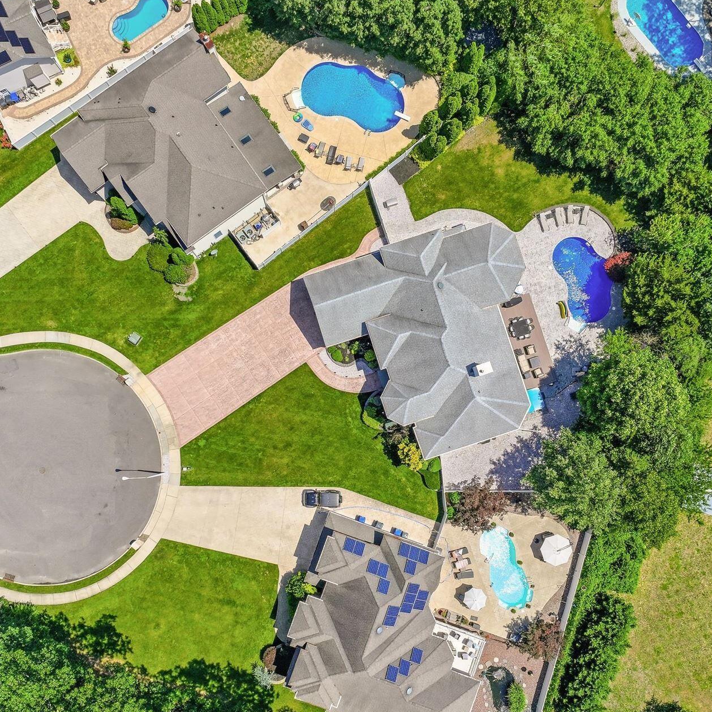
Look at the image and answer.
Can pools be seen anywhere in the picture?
Yes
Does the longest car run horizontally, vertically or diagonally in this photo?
horizontally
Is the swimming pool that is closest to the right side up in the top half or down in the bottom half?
top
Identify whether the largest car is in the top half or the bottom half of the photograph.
bottom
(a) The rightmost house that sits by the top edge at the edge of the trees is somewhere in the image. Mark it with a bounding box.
[51,24,302,255]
